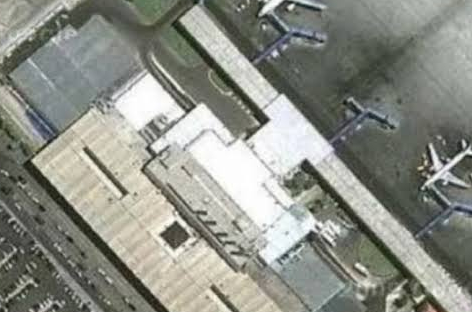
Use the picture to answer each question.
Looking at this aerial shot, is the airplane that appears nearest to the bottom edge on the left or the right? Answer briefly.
right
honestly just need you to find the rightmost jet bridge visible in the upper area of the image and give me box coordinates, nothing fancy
[330,95,398,144]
